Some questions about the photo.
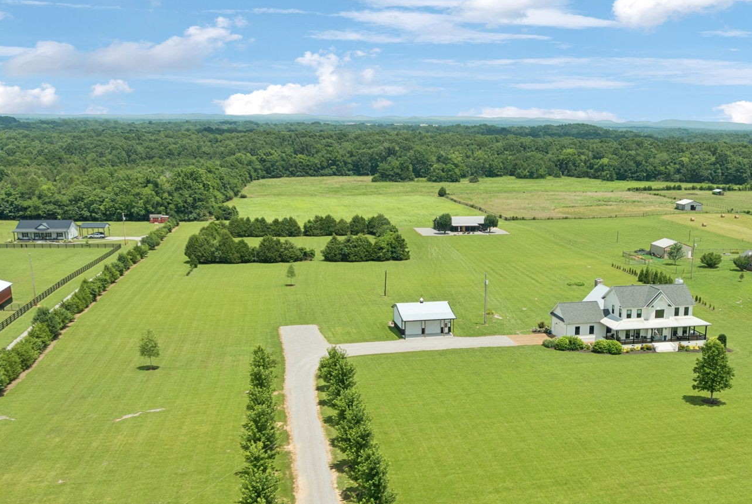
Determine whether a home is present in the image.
Yes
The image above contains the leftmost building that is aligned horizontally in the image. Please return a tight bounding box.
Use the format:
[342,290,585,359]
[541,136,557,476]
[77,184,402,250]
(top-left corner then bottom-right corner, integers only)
[12,220,78,240]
